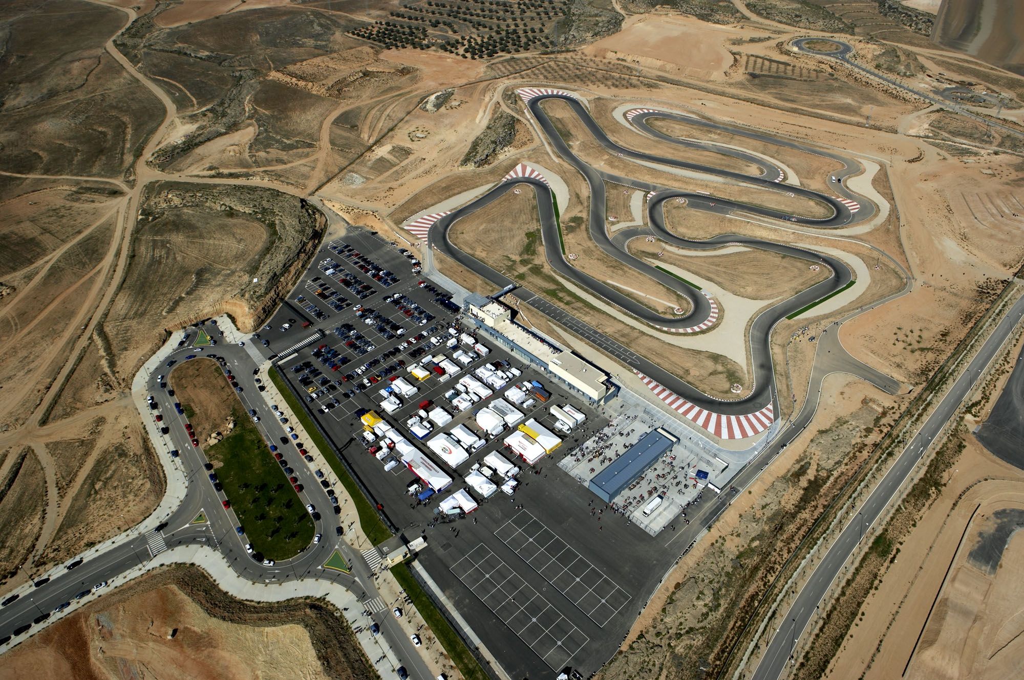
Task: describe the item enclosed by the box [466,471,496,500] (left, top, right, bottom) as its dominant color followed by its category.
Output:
white tent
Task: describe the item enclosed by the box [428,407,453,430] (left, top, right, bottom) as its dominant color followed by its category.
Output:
white tent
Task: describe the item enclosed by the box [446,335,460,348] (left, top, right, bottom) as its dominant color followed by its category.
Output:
white vehicle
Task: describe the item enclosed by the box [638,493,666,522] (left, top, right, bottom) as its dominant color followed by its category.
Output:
white truck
